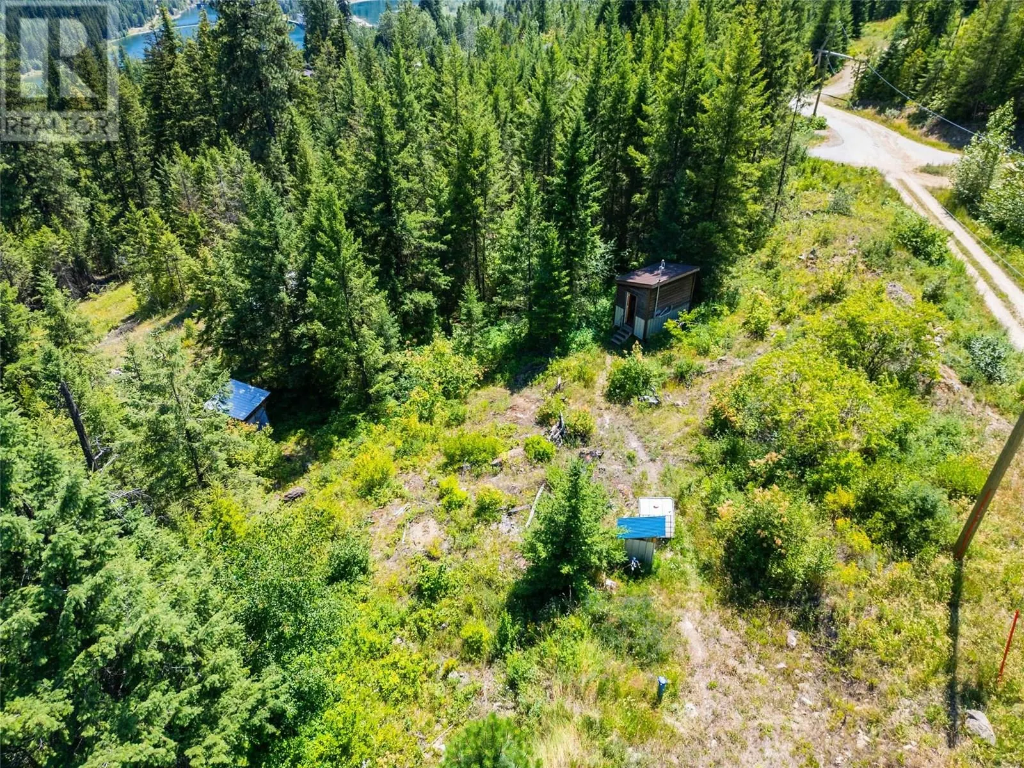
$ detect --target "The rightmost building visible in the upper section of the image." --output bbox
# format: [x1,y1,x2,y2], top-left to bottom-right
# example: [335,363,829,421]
[605,257,699,343]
